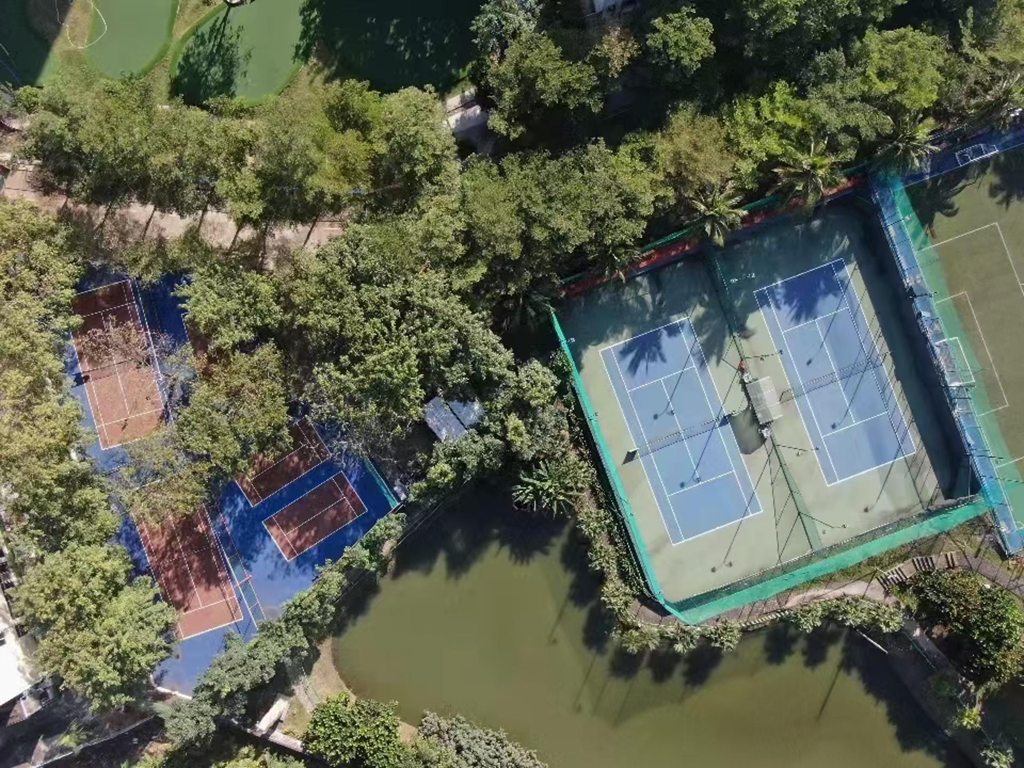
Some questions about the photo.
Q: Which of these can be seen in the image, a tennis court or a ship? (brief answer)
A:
tennis court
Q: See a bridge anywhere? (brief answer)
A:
No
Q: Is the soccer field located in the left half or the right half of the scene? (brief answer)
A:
right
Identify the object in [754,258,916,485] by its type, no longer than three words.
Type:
tennis court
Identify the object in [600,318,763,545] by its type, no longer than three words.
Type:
tennis court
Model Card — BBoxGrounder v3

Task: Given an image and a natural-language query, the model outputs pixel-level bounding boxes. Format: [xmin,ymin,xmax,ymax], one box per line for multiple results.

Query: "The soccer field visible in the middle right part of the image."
[861,115,1024,555]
